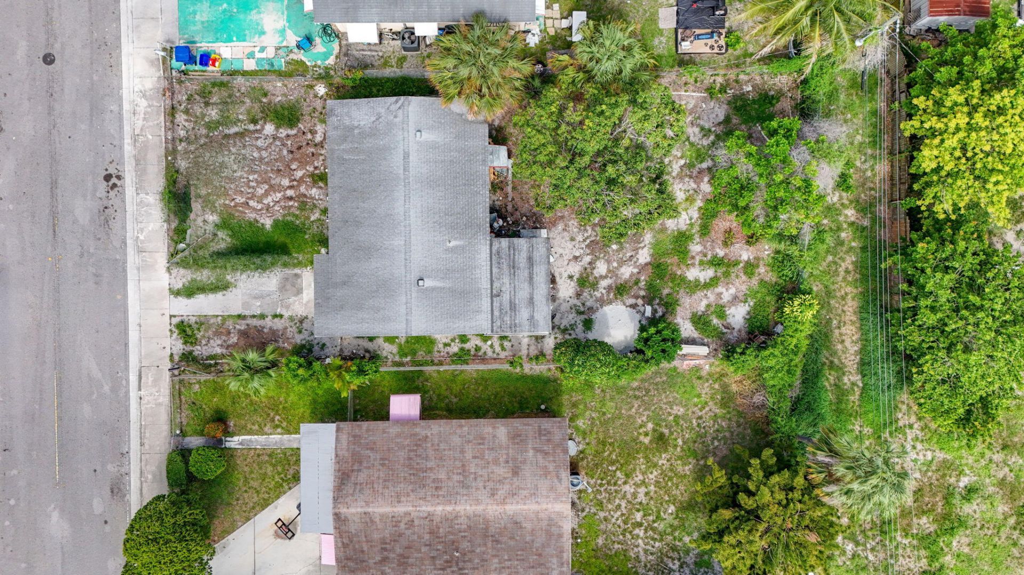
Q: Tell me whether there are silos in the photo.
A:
No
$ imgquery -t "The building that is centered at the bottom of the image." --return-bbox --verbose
[299,394,573,575]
